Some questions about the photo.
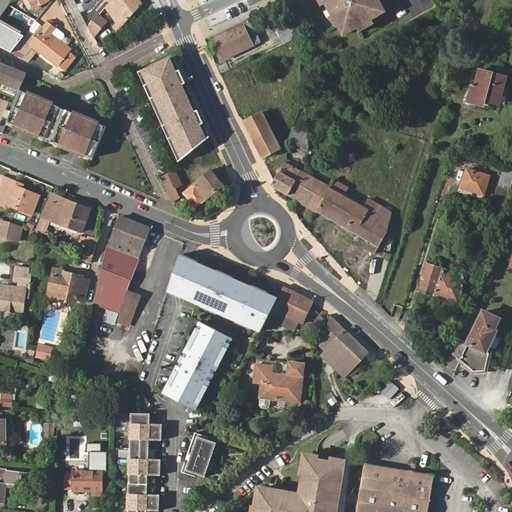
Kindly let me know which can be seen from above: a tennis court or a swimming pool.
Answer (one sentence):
This aerial view contains a swimming pool.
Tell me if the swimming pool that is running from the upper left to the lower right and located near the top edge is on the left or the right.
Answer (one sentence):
The swimming pool that is running from the upper left to the lower right and located near the top edge is on the left side of the image.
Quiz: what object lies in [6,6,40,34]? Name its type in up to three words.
swimming pool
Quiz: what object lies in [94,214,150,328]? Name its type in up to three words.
building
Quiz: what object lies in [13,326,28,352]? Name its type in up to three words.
swimming pool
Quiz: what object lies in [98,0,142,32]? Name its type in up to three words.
house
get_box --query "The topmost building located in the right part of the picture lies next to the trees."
[314,0,384,37]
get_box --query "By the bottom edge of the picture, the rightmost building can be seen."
[356,462,435,512]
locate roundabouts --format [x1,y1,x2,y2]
[228,198,296,268]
